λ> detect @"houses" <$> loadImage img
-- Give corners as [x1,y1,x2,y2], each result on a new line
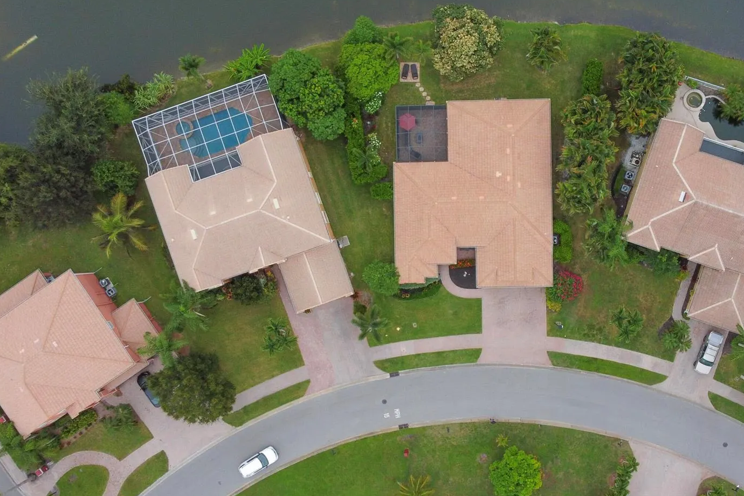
[392,98,554,289]
[144,127,355,315]
[0,267,171,440]
[623,118,744,332]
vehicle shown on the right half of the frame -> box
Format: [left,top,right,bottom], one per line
[693,330,725,374]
